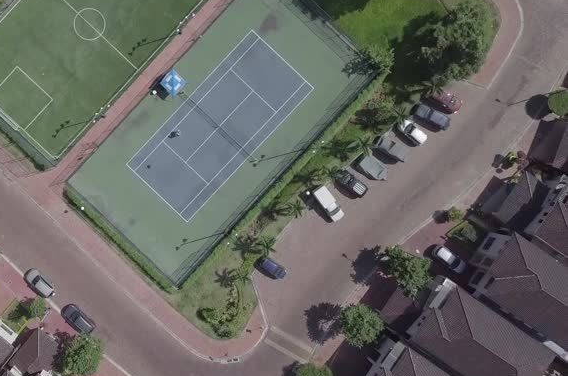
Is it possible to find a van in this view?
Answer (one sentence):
Yes, I can see a van in this picture.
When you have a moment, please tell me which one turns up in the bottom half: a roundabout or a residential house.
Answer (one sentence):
You can see a residential house in the bottom half.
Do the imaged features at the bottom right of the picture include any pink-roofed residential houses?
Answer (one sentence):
No, no pink-roofed residential house is visible at the bottom right of the picture.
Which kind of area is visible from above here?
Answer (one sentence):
This image shows a sports ground.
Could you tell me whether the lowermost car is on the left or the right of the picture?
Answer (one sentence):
You can find the lowermost car on the left side of the picture.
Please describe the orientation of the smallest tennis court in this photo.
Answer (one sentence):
What the image shows is the smallest tennis court lying on a diagonal.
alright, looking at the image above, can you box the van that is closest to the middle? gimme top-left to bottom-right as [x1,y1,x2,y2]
[314,185,344,221]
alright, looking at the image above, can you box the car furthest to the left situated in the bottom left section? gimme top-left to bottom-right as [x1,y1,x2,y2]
[23,266,56,299]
